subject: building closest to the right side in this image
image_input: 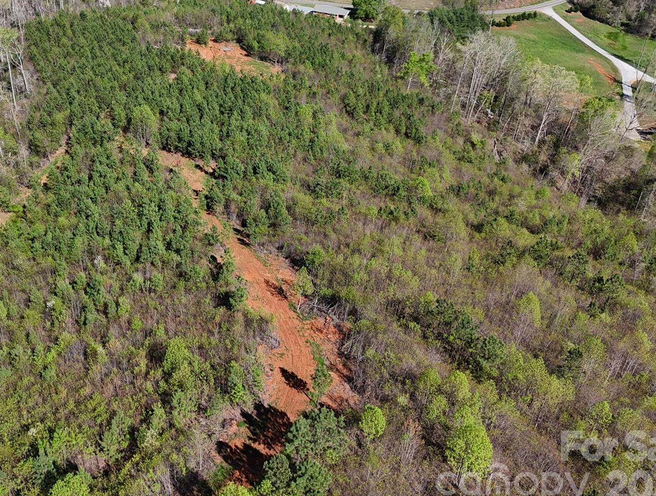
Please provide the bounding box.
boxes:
[312,2,354,20]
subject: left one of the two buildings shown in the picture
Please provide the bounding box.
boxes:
[286,0,314,16]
